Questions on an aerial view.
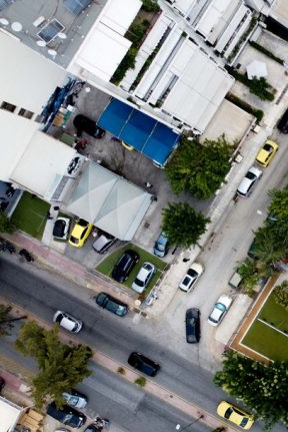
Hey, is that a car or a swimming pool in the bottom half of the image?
car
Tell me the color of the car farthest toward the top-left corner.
black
